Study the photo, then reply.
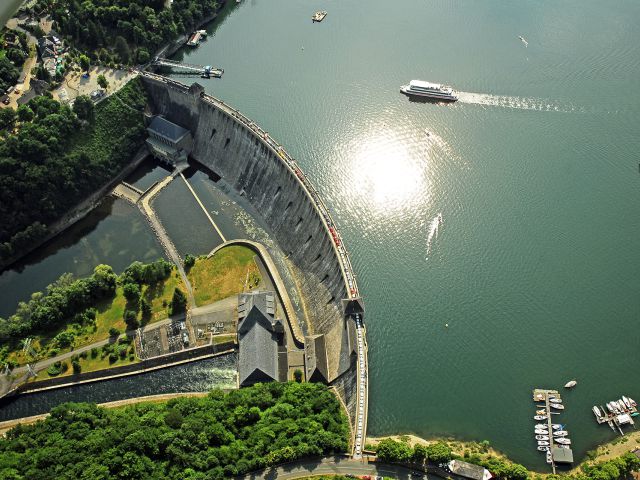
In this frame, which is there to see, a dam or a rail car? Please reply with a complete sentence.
I can see a dam in this picture.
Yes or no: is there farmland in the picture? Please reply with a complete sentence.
No, there is no farmland in the image.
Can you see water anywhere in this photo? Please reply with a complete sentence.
Yes, the picture does contain water.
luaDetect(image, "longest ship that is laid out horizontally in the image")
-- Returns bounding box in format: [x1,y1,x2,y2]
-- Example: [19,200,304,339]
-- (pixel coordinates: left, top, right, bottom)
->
[400,86,458,104]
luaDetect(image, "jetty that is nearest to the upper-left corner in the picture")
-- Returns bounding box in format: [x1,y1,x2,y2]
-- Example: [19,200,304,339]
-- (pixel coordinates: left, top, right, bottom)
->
[162,61,223,75]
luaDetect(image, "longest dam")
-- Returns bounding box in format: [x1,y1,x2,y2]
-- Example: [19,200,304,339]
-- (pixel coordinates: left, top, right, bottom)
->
[138,69,371,460]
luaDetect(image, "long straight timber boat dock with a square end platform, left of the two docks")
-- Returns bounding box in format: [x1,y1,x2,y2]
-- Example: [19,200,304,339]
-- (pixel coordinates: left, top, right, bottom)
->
[533,389,560,470]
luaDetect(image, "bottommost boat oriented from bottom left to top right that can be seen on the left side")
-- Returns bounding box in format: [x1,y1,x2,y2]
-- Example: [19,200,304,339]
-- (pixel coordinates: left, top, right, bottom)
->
[187,30,204,45]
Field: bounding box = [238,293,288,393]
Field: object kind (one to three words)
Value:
building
